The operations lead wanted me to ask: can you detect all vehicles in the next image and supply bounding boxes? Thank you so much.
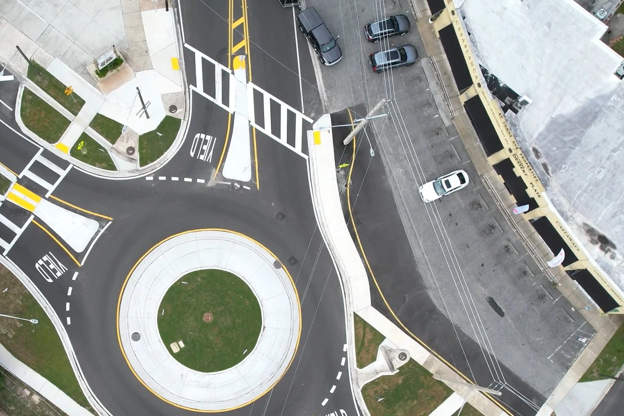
[417,170,472,201]
[368,45,419,74]
[363,14,412,44]
[295,5,342,69]
[279,0,301,10]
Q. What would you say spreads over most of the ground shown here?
paved ground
